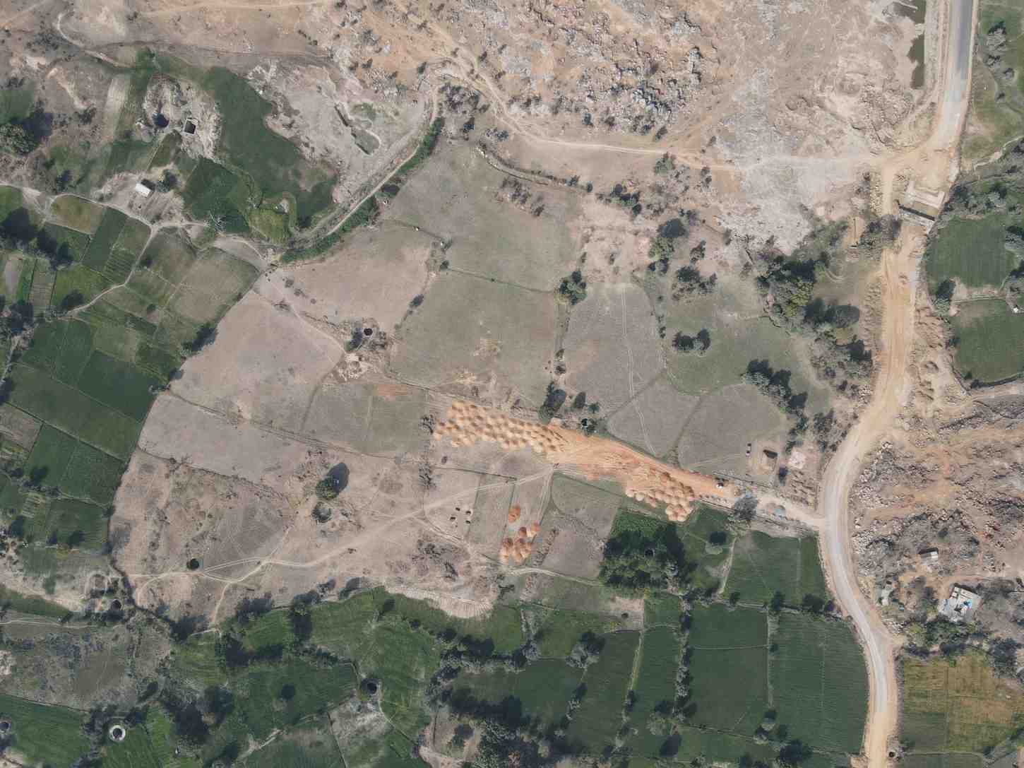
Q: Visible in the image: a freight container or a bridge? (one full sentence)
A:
The image shows a bridge.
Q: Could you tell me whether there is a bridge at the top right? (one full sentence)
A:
Yes, the scene does show a bridge at the top right.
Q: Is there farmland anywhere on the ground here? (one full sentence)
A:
Yes, farmland can be seen from above here.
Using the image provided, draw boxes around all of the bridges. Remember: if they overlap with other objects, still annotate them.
[899,183,945,233]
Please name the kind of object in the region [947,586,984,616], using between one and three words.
house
